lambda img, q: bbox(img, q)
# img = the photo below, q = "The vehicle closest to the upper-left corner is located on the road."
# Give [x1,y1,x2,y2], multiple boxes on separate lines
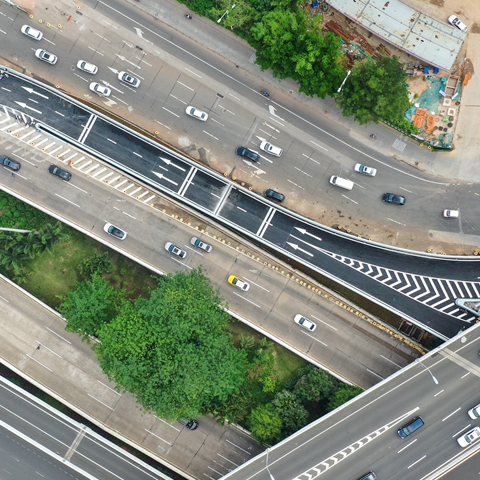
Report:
[22,24,44,42]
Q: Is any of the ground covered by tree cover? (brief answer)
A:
Yes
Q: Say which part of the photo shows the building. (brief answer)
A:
top right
